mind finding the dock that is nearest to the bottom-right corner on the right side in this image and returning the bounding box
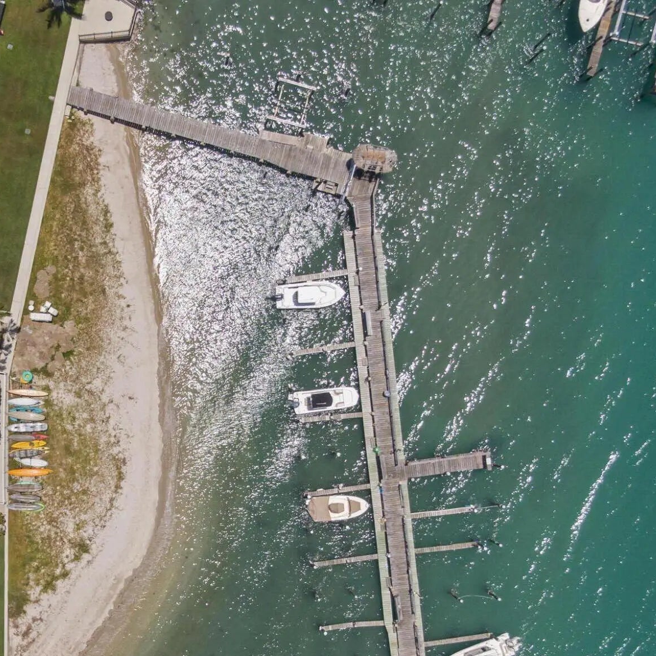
[425,629,491,646]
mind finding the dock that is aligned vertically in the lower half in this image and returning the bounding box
[340,230,426,656]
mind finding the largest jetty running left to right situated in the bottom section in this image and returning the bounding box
[389,451,494,482]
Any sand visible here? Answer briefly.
Yes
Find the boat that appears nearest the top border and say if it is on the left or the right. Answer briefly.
right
